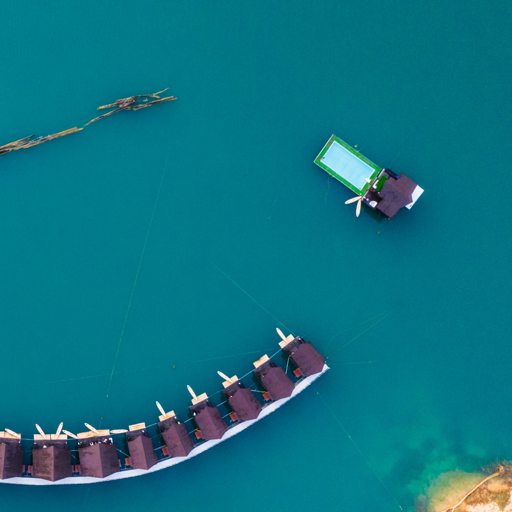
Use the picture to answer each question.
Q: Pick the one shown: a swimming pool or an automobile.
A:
swimming pool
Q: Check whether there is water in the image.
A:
Yes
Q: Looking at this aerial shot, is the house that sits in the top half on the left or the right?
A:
right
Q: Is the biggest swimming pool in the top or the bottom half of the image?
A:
top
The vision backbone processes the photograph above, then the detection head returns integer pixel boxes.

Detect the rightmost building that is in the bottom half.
[278,334,323,381]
